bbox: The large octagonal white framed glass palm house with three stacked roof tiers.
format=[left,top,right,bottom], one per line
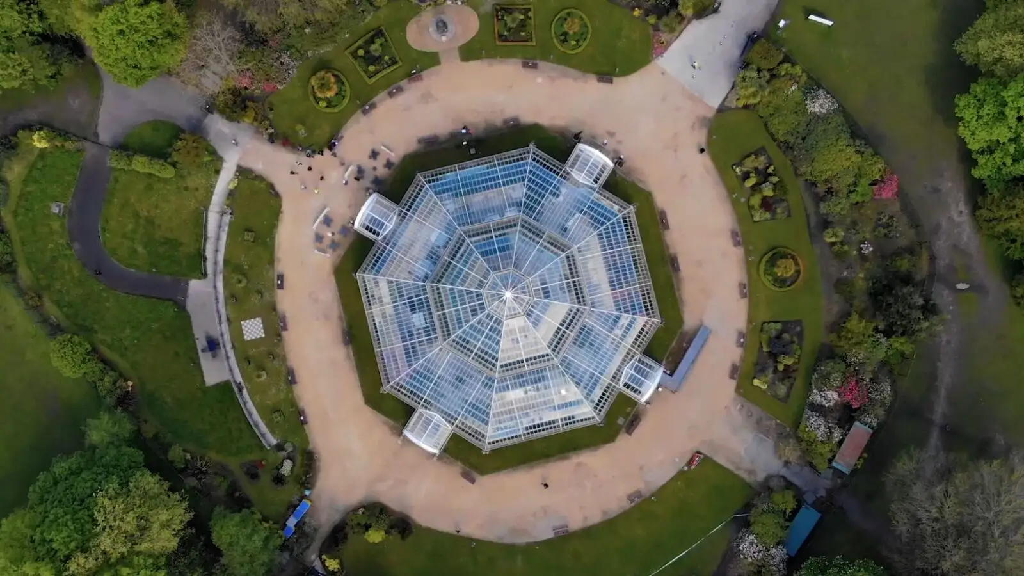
[352,142,667,458]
